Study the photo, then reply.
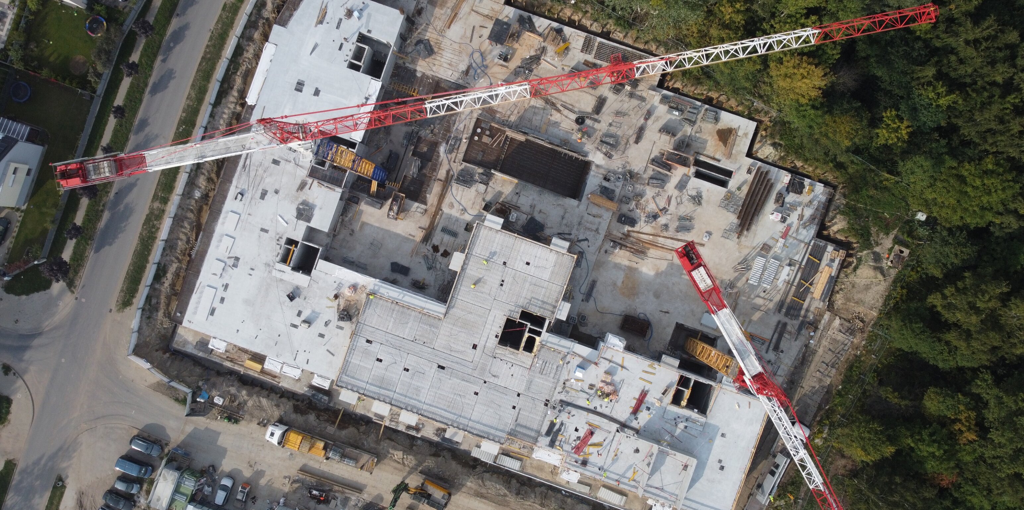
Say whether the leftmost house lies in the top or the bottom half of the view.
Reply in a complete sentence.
The top half of the photo is where the leftmost house is.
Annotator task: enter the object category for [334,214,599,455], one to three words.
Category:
building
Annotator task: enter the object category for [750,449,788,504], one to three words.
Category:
shed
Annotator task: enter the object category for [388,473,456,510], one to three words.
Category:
work vehicle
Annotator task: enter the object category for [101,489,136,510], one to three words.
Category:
car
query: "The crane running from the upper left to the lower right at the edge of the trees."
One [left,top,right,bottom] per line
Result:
[673,237,839,510]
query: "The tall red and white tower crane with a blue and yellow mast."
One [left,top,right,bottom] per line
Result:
[48,6,938,194]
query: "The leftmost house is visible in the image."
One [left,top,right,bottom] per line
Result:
[0,117,65,209]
